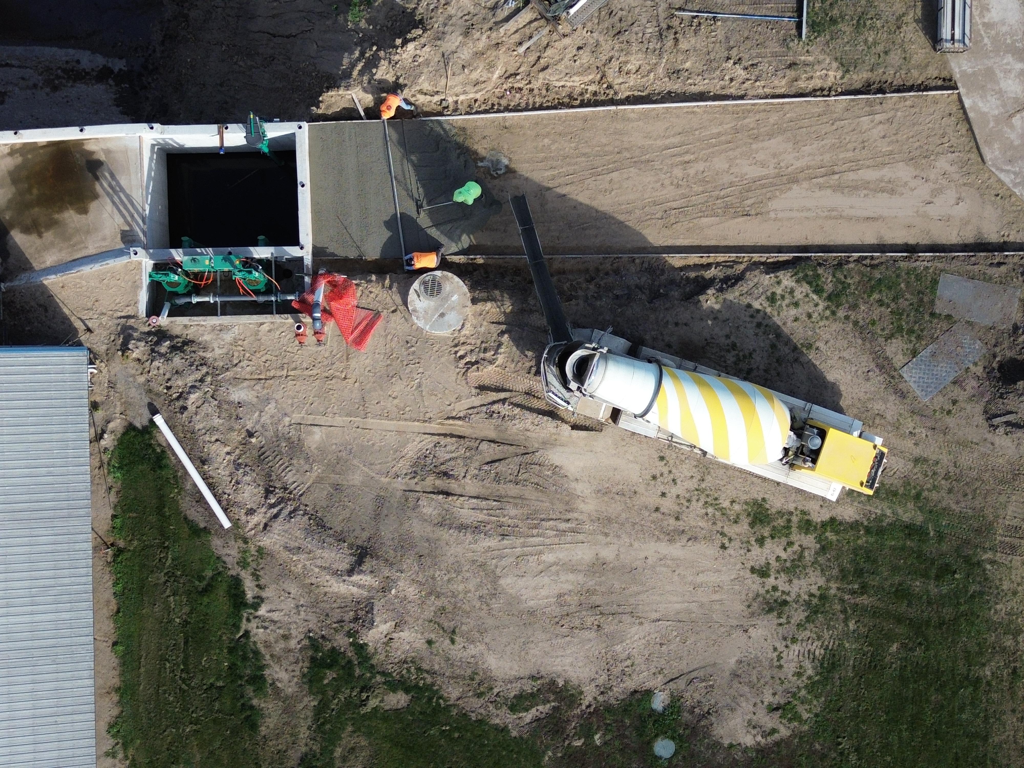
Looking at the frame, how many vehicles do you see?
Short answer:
1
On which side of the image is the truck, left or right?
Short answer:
right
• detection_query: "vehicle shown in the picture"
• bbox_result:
[510,193,889,500]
